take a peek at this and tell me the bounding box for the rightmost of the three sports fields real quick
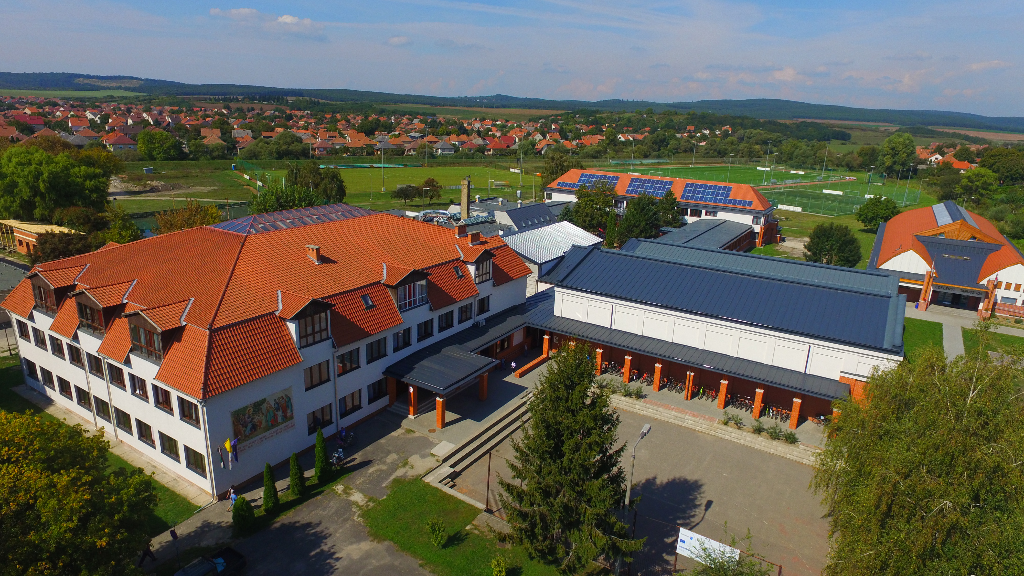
[760,189,852,215]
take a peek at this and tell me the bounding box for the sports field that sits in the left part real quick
[246,167,554,194]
